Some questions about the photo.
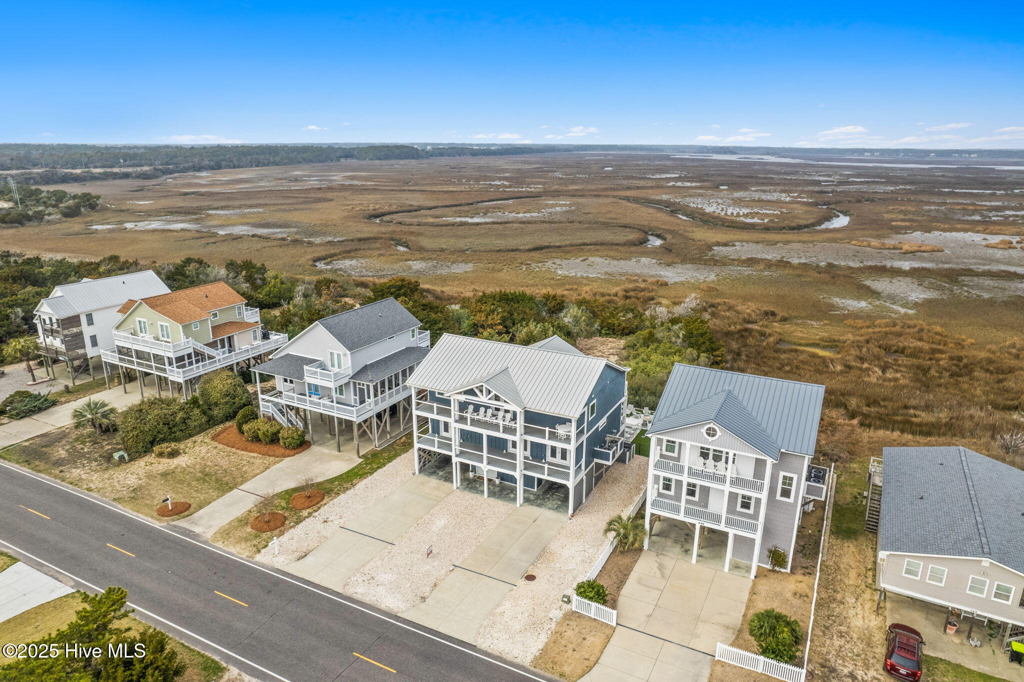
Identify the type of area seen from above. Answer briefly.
residential area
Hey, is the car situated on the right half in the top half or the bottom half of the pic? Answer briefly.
bottom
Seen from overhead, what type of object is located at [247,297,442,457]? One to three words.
house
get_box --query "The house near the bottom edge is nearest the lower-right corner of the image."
[855,445,1024,653]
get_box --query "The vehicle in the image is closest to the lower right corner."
[886,625,928,682]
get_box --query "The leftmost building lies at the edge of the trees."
[25,270,170,386]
